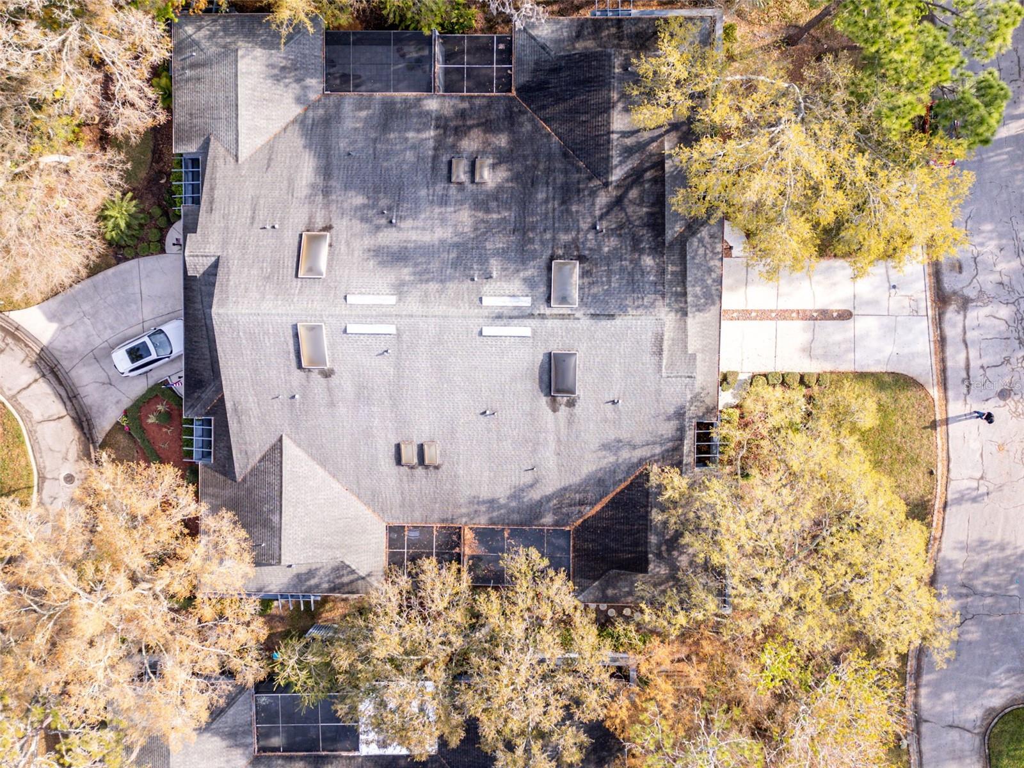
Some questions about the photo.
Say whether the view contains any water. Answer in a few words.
No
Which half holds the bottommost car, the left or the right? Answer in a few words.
left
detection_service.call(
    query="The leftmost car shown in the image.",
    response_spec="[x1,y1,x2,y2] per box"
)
[113,323,183,376]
